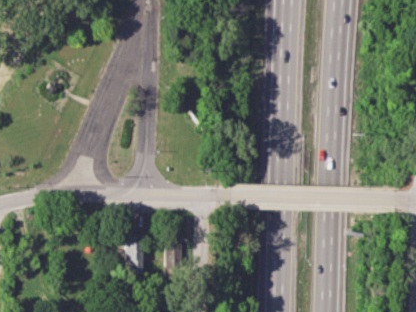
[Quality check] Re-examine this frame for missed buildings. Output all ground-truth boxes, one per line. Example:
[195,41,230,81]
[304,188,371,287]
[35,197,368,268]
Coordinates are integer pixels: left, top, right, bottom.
[163,246,180,276]
[120,242,146,268]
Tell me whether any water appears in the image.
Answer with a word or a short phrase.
No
